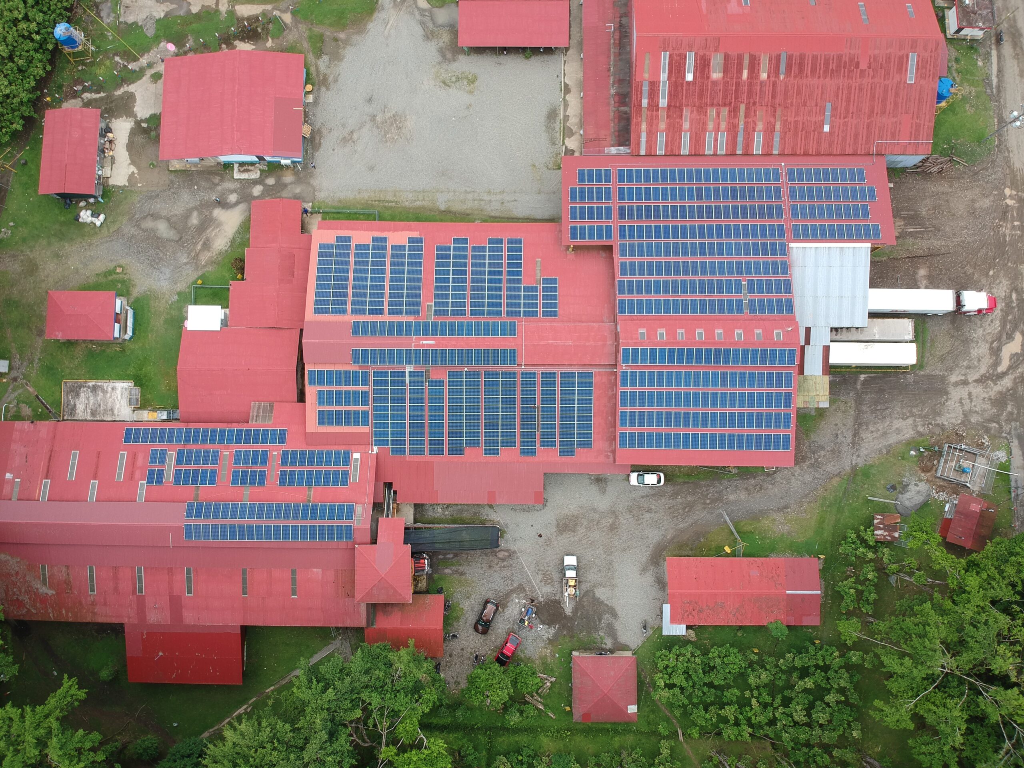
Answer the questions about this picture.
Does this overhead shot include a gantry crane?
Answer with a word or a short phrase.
No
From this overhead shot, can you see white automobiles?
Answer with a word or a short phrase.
Yes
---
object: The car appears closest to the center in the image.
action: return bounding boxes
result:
[629,470,665,488]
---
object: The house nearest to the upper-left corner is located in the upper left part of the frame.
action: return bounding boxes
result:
[39,108,106,198]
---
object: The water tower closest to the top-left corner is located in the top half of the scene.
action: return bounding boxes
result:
[55,24,102,68]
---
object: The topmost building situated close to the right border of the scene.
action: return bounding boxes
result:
[945,0,994,40]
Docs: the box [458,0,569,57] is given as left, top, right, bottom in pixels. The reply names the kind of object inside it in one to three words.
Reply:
shed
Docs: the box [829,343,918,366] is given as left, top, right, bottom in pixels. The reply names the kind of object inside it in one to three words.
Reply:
trailer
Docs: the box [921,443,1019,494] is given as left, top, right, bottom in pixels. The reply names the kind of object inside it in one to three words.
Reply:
building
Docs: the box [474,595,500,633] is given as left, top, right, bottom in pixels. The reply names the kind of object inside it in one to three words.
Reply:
car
